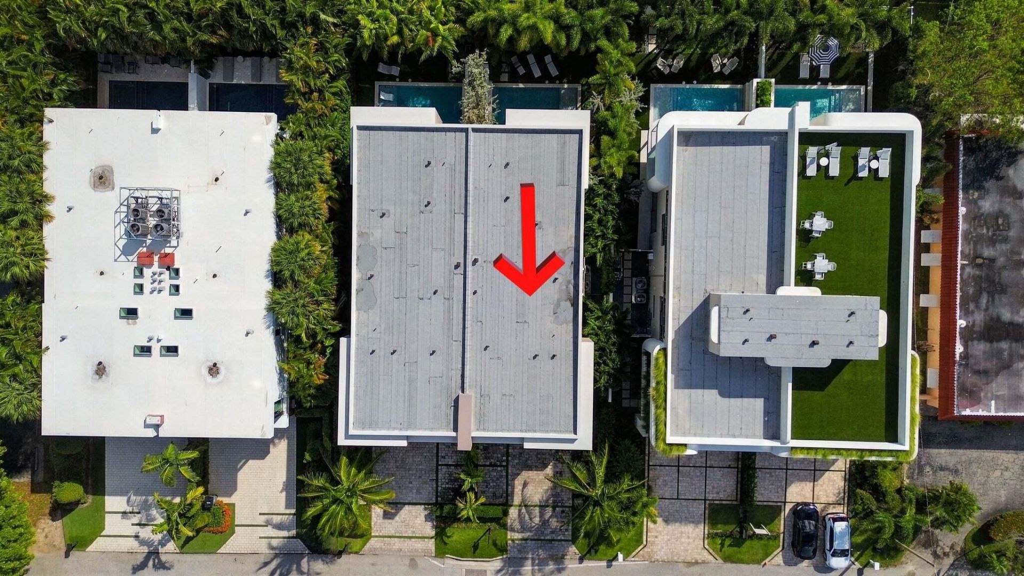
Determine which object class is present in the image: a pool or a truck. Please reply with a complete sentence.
I can see a pool in this picture.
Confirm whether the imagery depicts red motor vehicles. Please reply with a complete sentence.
No, no red motor vehicle can be seen from above.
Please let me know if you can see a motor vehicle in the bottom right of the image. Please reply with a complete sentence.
Yes, I can see a motor vehicle in the bottom right of the image.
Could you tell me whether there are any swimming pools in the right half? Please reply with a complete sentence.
Yes, there is a swimming pool in the right half.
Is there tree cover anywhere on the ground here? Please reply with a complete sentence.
Yes, tree cover shows up in the scene.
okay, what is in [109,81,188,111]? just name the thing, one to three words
swimming pool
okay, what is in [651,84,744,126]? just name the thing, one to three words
swimming pool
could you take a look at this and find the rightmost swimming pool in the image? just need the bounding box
[776,85,858,120]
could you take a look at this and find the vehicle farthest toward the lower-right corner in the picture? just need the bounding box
[820,512,854,571]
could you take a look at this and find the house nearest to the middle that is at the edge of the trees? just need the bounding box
[338,107,594,450]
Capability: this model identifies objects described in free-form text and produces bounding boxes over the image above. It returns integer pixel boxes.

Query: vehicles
[820,512,854,571]
[790,500,824,565]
